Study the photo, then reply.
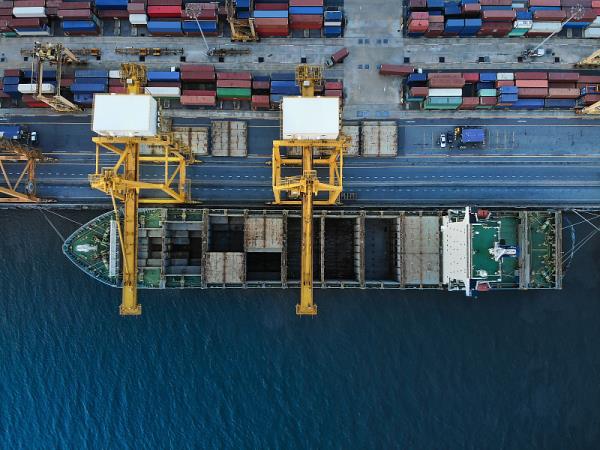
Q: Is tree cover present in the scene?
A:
No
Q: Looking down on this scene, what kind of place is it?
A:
port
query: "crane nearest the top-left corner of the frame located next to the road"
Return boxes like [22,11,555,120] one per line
[32,40,83,112]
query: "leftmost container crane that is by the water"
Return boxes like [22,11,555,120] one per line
[0,144,49,202]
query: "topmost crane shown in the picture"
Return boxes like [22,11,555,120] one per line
[223,0,257,41]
